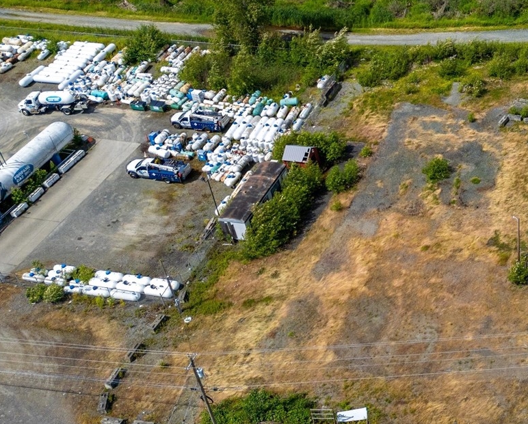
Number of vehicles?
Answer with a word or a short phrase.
3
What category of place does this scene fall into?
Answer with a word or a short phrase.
industrial area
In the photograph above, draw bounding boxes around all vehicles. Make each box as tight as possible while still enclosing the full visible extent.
[120,154,195,179]
[165,104,232,127]
[12,88,89,114]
